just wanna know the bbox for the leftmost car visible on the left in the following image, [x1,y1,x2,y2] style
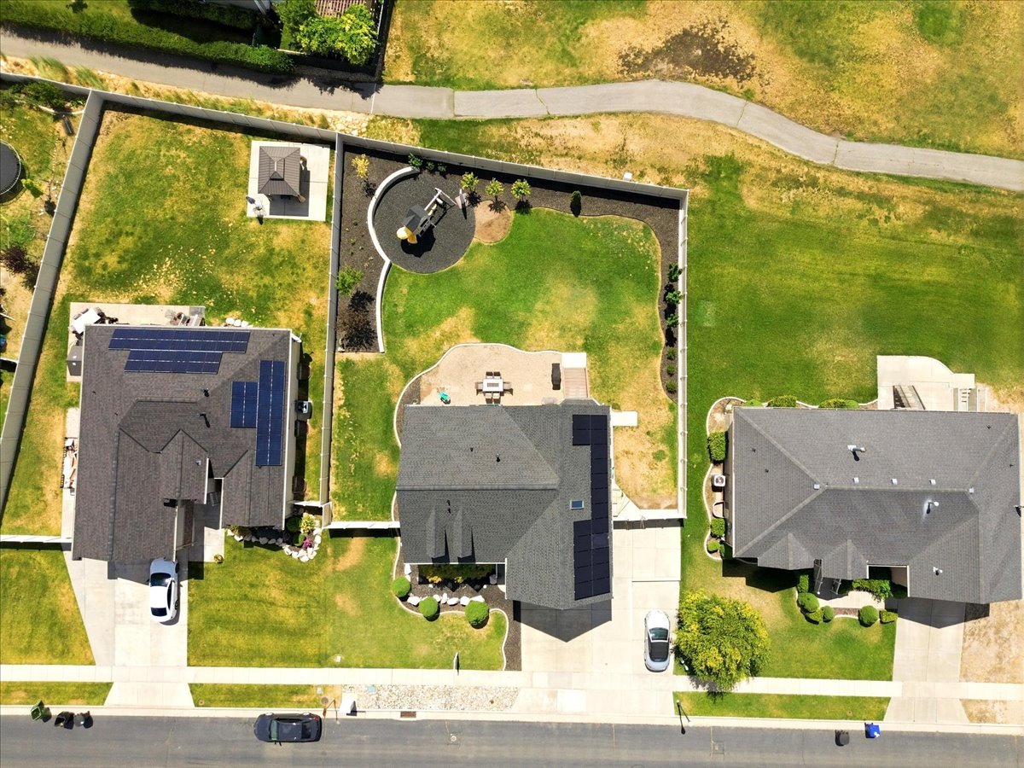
[147,561,182,624]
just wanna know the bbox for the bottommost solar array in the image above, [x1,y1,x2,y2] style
[573,415,611,598]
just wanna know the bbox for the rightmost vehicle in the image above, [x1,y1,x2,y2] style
[642,606,673,672]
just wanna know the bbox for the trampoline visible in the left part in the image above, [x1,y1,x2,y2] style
[0,142,29,199]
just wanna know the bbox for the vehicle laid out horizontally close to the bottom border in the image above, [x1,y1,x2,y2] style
[255,712,324,746]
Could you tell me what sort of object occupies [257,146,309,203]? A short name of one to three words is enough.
gazebo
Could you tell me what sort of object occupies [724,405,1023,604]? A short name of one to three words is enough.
house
